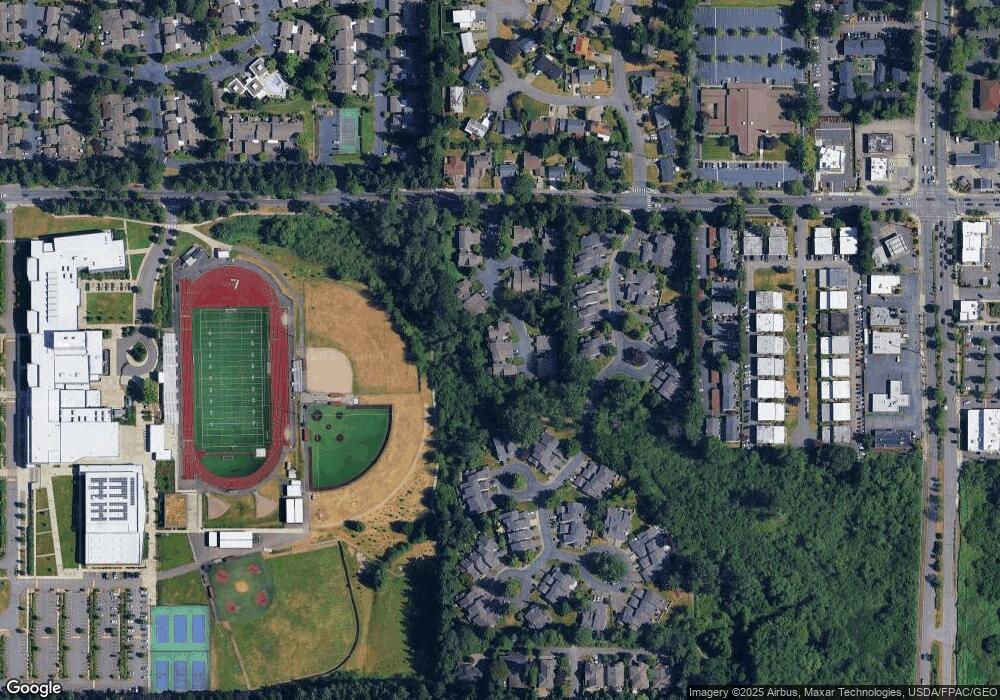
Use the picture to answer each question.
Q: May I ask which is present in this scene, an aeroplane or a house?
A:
house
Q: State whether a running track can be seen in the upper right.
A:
No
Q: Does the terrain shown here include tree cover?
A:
Yes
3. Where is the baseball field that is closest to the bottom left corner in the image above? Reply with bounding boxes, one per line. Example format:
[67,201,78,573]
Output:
[212,556,274,624]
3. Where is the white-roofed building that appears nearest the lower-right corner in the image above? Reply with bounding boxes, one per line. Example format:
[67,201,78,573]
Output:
[968,410,1000,452]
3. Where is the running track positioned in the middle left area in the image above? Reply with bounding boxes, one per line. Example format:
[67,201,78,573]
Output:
[181,265,289,489]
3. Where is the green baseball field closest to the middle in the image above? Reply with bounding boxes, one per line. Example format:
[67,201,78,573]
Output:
[302,402,392,490]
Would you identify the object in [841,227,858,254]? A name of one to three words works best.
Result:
house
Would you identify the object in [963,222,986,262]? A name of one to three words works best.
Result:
building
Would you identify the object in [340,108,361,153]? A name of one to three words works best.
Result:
tennis court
